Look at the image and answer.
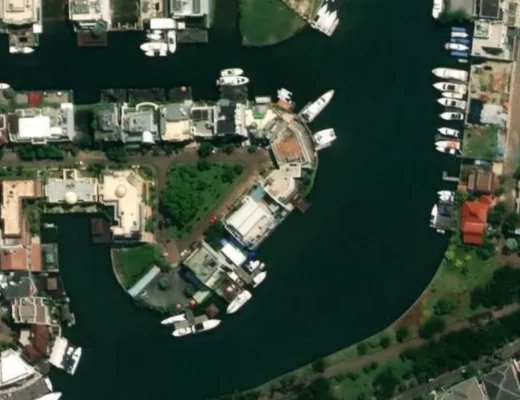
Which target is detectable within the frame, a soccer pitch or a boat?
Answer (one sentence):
It is a boat that can be seen here.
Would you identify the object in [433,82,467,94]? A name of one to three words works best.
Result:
boat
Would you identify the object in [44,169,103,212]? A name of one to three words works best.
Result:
house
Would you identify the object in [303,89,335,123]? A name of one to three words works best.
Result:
boat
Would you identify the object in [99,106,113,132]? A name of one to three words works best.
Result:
house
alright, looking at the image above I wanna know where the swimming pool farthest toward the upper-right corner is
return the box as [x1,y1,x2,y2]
[468,100,483,123]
